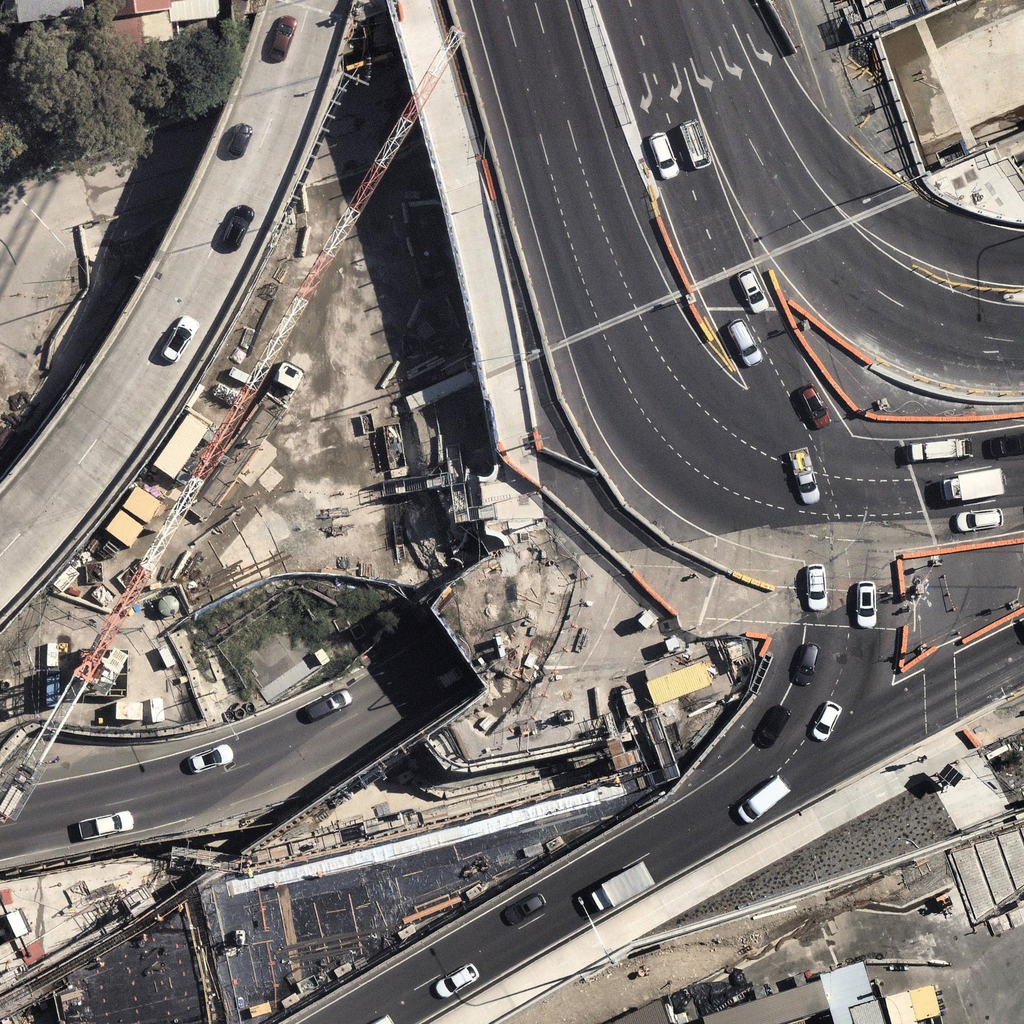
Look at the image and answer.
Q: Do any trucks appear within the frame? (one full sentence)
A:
Yes, you can see a truck in this photo.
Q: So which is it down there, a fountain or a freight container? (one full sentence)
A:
Looking from above, you can make out a freight container.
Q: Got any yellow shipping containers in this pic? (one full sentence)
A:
Yes, the frame does contain a yellow shipping container.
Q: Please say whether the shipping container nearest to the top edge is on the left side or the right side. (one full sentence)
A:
The shipping container nearest to the top edge appears in the left half of the scene.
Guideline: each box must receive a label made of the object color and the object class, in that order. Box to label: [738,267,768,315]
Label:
white car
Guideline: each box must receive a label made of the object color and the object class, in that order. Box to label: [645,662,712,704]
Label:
yellow shipping container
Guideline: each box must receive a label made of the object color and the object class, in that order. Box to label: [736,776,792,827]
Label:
white van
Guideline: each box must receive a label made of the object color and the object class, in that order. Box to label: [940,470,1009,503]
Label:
white truck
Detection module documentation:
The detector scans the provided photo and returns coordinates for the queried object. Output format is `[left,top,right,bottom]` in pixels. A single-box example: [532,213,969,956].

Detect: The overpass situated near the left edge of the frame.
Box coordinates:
[0,0,353,630]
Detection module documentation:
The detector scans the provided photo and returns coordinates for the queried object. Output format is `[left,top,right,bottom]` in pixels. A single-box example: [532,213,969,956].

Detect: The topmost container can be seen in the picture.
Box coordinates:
[157,414,208,477]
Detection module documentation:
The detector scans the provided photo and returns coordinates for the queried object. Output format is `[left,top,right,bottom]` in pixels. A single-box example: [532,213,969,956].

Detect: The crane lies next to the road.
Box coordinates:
[0,29,463,820]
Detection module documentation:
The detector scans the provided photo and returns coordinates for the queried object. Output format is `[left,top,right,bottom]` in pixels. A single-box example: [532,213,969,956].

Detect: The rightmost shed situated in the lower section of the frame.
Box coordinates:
[909,984,940,1021]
